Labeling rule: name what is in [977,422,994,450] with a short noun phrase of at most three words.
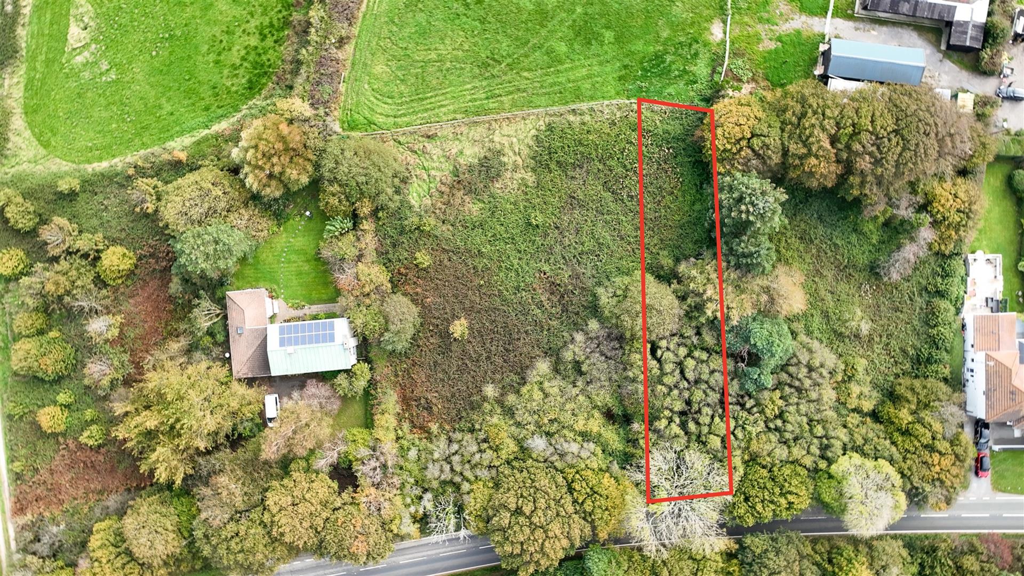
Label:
car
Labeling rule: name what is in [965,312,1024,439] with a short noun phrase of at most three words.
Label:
house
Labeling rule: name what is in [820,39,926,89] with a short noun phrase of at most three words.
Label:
barn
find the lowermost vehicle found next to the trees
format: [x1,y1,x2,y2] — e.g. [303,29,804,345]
[977,453,993,477]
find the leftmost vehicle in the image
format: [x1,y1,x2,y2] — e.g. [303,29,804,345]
[263,395,279,426]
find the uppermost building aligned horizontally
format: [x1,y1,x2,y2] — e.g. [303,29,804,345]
[863,0,989,52]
